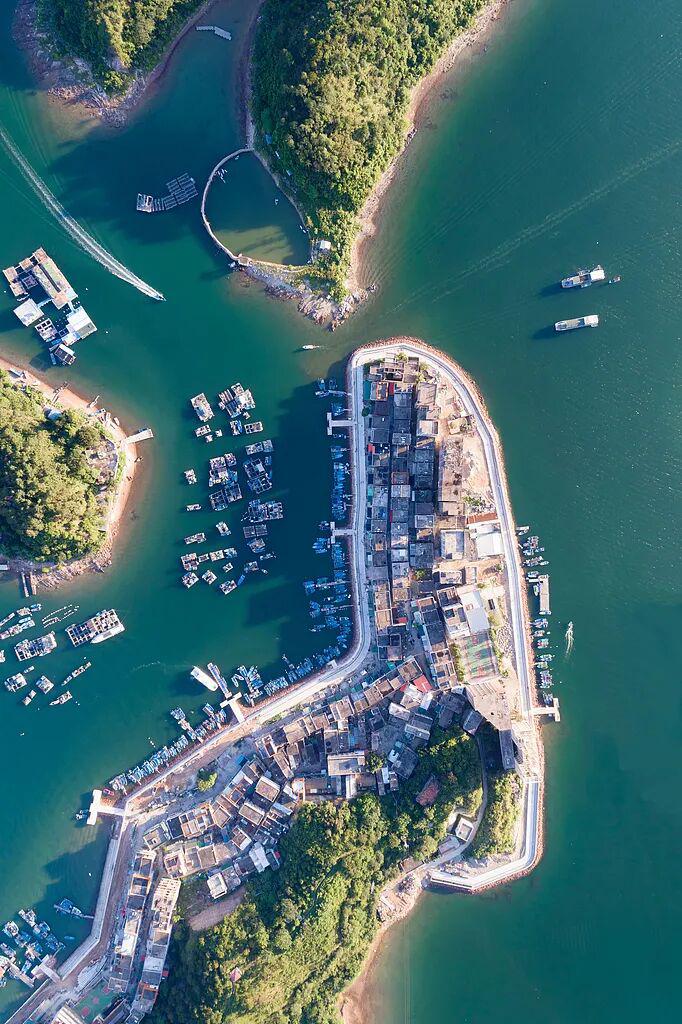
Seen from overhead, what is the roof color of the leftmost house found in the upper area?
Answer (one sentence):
The color of the roof on the leftmost house found in the upper area is white.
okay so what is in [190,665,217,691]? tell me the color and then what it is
white ship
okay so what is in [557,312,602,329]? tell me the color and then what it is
white ship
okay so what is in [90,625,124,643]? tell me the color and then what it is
white boat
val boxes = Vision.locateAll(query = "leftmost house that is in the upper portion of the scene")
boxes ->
[11,298,43,326]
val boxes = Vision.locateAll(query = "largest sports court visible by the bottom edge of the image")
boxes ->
[79,979,120,1022]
